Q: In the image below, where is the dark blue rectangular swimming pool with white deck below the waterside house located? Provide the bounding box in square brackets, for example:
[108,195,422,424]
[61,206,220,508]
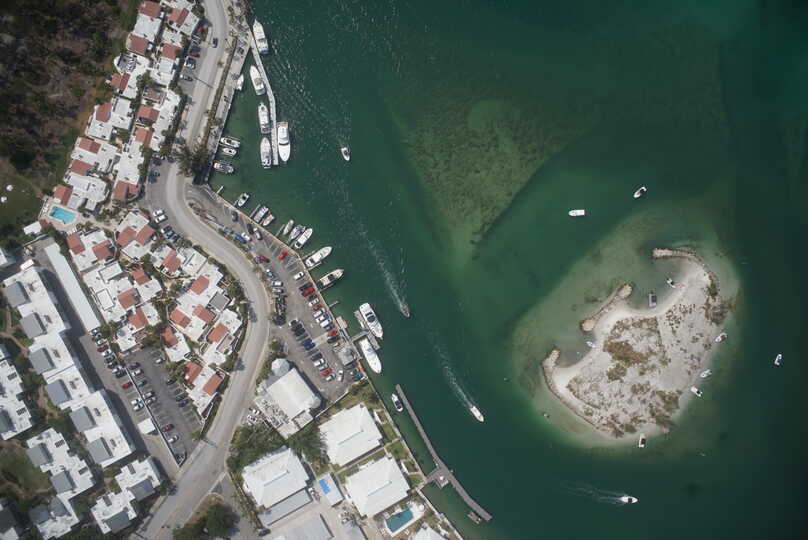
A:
[383,501,425,536]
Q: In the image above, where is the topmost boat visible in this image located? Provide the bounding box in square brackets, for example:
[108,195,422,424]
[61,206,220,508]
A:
[255,20,269,56]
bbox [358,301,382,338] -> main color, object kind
white boat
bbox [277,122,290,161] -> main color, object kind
white boat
